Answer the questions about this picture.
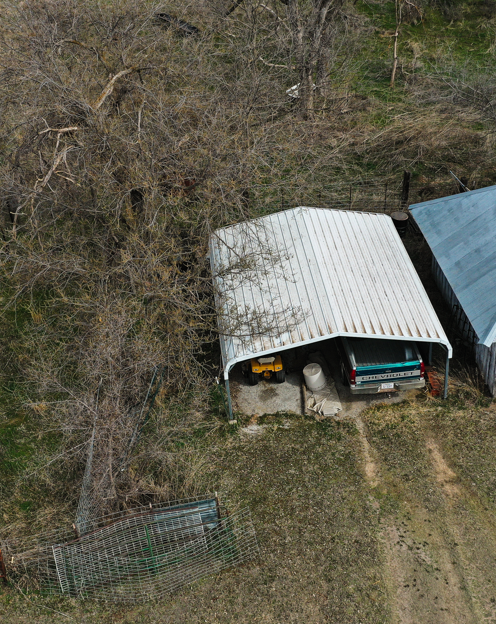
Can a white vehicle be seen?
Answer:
No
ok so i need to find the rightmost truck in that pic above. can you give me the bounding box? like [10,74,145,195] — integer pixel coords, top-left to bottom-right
[334,334,424,397]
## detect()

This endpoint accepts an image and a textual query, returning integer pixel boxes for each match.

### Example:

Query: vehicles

[334,334,424,397]
[247,354,286,385]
